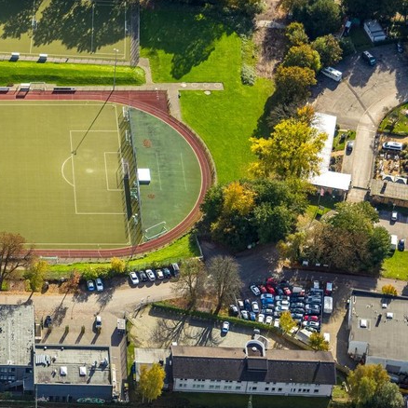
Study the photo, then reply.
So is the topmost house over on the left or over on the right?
right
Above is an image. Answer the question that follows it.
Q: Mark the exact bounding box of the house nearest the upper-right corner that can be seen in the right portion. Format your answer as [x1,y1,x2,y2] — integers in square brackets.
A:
[362,21,386,48]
